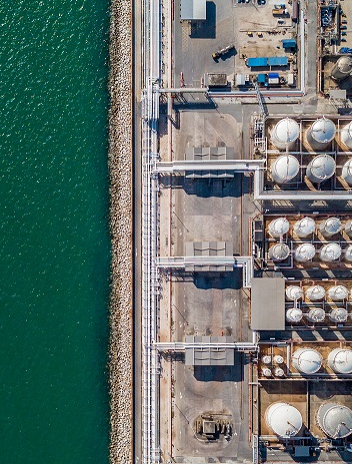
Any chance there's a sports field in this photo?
No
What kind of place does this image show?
industrial area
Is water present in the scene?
Yes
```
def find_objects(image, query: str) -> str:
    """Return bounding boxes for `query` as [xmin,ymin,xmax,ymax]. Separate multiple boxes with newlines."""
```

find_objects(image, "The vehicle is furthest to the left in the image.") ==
[214,43,235,57]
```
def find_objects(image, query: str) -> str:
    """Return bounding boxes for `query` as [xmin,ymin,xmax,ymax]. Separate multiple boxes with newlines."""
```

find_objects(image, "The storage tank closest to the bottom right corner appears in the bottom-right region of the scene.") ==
[317,398,352,438]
